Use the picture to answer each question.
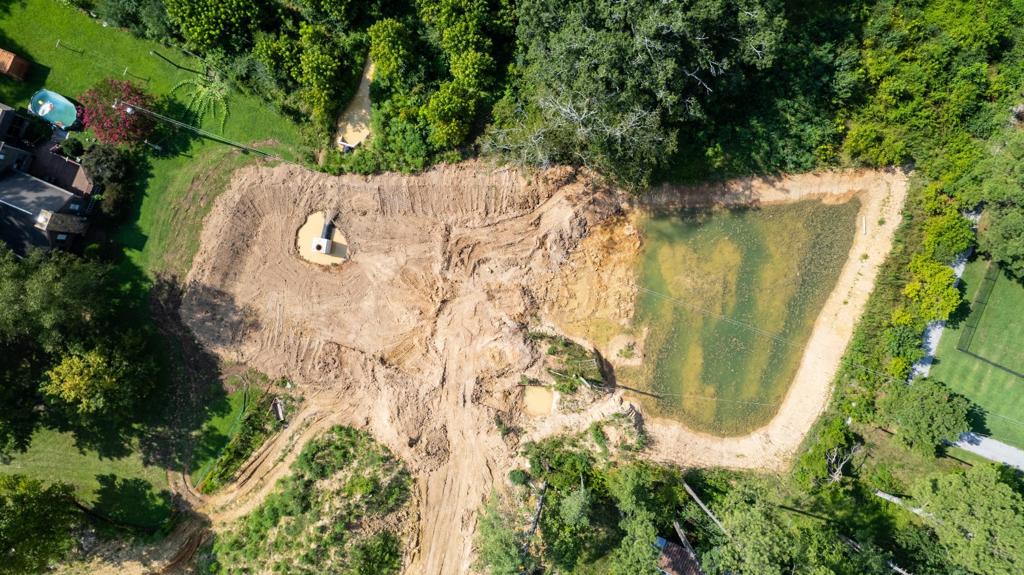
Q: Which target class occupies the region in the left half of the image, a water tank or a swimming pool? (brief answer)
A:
swimming pool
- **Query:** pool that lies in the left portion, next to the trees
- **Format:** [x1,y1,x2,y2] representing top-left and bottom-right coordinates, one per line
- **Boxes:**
[27,86,86,135]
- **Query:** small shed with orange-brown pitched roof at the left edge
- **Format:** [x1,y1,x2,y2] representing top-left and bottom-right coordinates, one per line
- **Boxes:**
[0,49,36,83]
